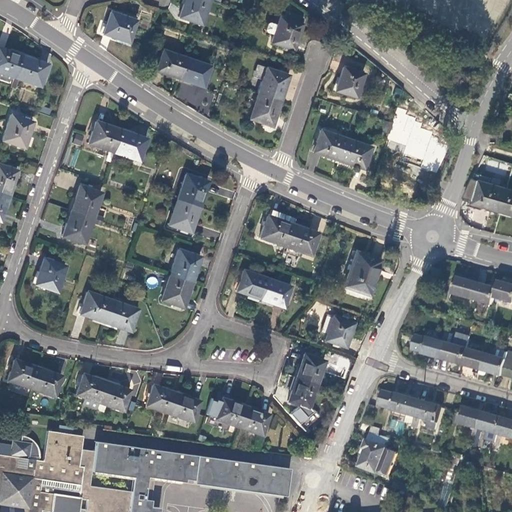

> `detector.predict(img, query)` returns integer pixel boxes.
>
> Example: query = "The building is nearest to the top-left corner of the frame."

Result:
[0,45,51,88]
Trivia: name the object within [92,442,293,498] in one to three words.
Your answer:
building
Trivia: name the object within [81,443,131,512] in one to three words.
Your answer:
building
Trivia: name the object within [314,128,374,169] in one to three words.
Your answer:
house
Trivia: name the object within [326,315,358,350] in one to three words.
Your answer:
house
